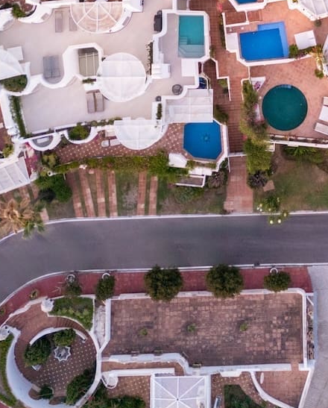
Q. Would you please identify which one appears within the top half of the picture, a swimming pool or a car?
swimming pool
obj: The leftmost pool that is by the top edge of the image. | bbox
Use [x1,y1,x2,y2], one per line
[177,15,207,59]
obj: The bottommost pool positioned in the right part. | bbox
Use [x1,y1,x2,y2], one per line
[181,119,223,161]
